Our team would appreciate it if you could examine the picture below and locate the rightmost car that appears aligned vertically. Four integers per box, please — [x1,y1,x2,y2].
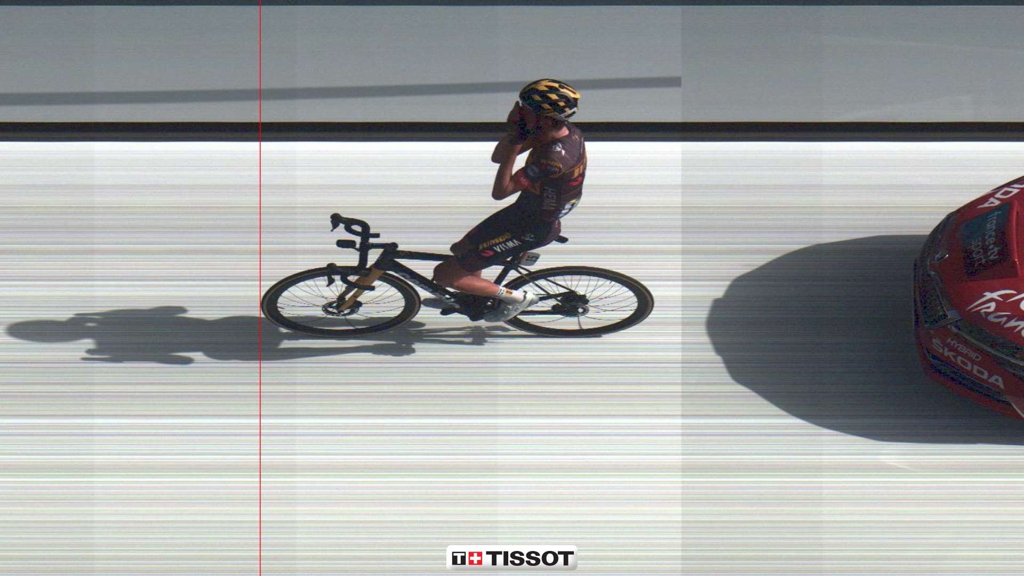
[911,165,1024,420]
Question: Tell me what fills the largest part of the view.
paved ground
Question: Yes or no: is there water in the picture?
No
